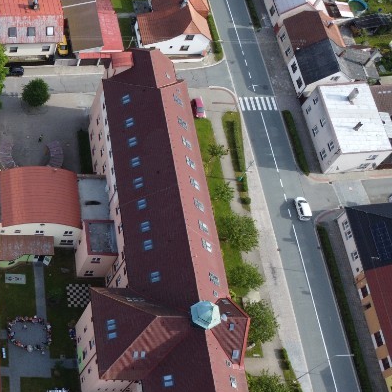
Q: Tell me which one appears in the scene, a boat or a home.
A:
home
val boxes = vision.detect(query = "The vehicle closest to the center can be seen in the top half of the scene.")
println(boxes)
[192,96,207,119]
